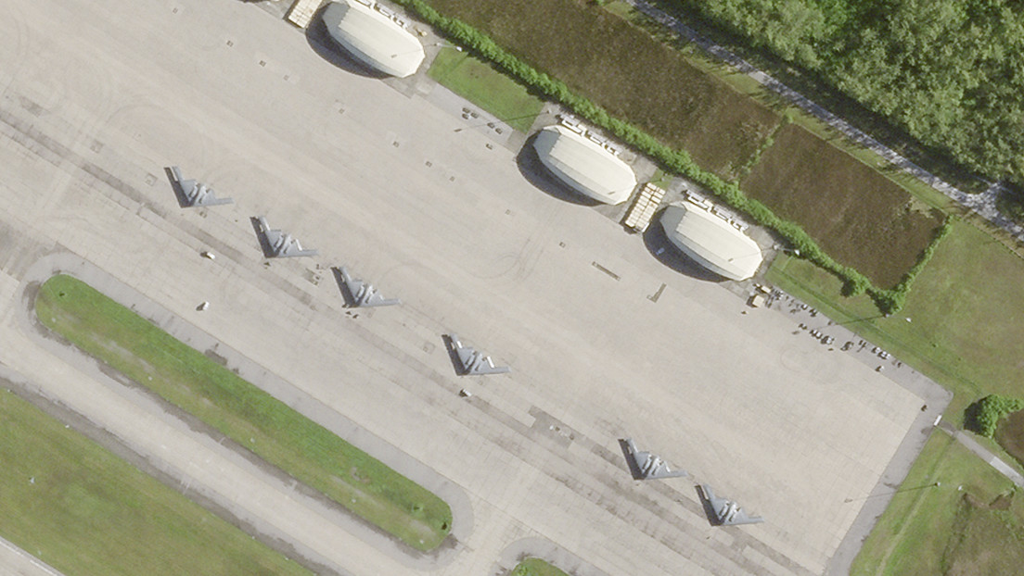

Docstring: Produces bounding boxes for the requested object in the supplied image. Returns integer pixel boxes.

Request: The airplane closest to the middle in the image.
[451,337,512,375]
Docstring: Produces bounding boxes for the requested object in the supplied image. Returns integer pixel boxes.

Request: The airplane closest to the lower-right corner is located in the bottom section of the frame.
[705,487,765,525]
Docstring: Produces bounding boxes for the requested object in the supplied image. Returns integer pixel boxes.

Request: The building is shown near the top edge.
[322,0,426,76]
